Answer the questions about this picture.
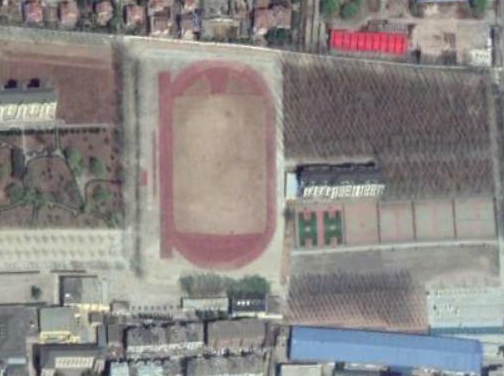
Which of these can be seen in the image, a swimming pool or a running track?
running track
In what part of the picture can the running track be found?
center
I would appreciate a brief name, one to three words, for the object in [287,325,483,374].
building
